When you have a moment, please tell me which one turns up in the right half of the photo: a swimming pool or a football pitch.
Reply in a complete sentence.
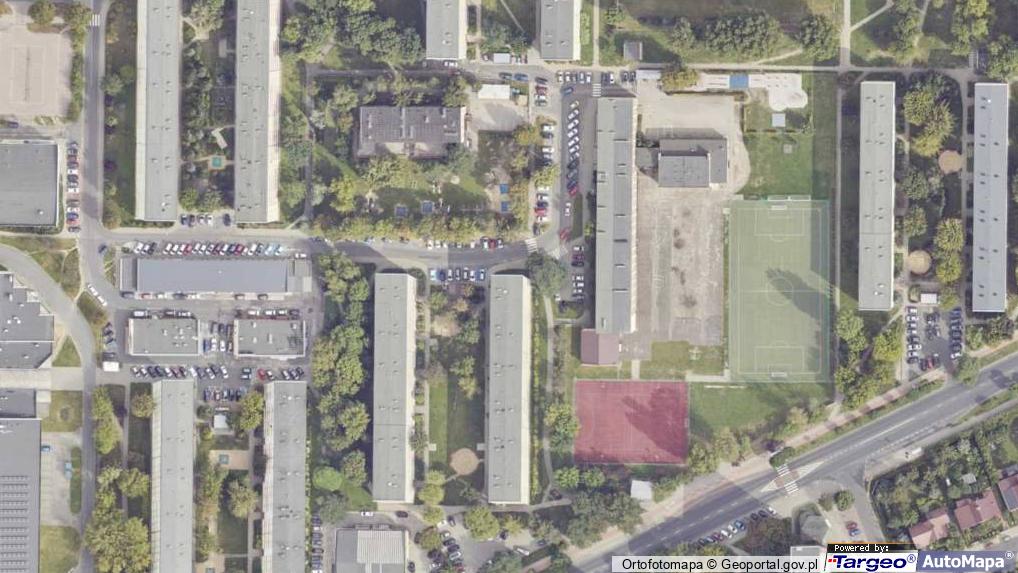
Looking in the right half of the photo, you will find a football pitch.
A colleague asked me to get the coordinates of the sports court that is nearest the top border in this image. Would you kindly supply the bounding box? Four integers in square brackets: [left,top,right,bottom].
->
[0,25,72,121]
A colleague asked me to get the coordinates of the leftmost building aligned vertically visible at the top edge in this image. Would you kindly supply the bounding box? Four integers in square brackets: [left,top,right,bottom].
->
[137,0,179,224]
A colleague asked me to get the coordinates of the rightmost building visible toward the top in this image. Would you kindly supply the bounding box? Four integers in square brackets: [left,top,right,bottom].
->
[972,84,1007,312]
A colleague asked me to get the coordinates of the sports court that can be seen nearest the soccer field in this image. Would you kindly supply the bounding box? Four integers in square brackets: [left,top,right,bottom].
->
[573,379,690,467]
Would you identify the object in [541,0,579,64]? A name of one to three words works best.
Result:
building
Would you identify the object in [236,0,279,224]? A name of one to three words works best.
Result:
building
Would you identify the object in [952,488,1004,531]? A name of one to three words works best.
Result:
house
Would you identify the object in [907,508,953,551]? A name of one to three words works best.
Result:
house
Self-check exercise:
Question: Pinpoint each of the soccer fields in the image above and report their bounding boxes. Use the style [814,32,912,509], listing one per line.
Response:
[729,200,828,382]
